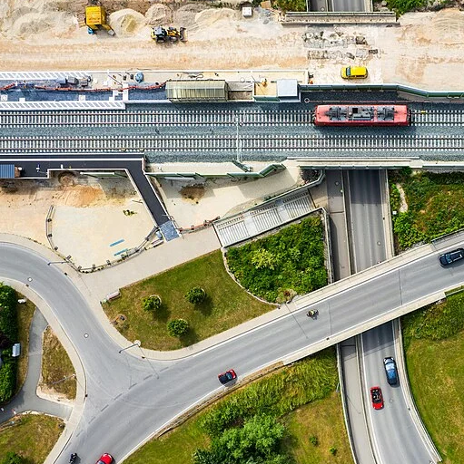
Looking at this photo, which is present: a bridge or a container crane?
bridge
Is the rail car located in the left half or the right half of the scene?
right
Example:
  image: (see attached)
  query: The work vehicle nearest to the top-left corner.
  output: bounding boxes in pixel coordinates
[150,26,187,44]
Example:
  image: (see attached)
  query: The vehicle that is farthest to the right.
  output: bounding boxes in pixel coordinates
[438,247,464,265]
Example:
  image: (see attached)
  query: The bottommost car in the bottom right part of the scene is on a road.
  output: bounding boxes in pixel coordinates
[371,386,383,410]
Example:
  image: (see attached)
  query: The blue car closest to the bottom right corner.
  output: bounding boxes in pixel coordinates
[383,356,397,383]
